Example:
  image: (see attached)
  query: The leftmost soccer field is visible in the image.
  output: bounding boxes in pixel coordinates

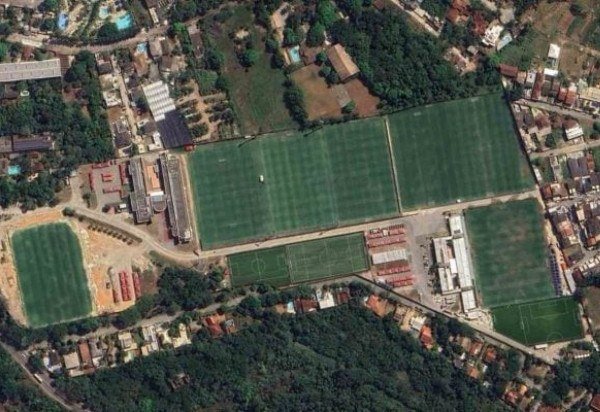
[13,222,93,328]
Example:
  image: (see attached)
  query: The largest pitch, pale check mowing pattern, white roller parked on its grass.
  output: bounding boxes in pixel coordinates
[186,118,401,250]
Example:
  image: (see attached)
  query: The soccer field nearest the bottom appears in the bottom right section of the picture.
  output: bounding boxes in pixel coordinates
[490,295,584,346]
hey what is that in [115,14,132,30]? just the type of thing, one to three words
swimming pool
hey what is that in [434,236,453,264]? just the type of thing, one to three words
building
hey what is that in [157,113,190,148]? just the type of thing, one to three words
building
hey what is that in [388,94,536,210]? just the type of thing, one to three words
soccer field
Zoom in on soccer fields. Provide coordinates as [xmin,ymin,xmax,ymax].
[288,233,370,281]
[490,295,584,346]
[13,222,93,328]
[388,94,536,210]
[465,198,558,307]
[228,246,291,289]
[186,118,401,250]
